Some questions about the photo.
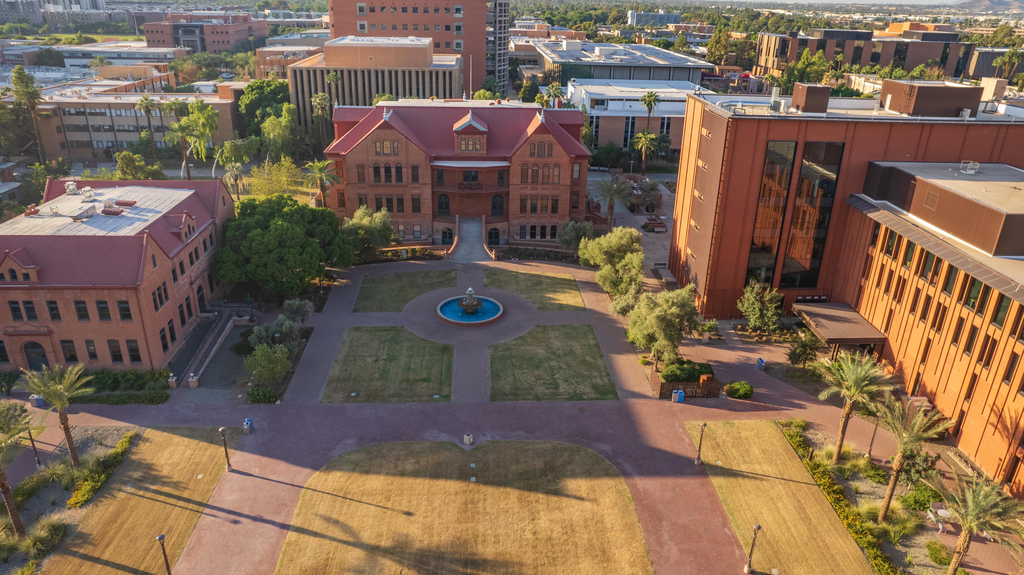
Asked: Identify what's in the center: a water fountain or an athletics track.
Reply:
water fountain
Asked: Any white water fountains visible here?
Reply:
No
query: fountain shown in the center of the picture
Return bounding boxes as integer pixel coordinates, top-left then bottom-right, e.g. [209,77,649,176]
[438,282,504,327]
